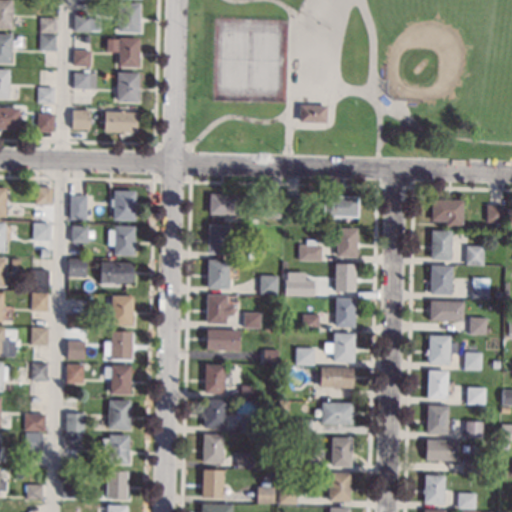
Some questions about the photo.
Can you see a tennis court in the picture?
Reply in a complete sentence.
Yes, a tennis court is visible in the scene.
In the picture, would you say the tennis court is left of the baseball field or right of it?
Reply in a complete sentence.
The tennis court is to the left of the baseball field.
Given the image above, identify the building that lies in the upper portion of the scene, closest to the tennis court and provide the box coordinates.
[300,103,328,122]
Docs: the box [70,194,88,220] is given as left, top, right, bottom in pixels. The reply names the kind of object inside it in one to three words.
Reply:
building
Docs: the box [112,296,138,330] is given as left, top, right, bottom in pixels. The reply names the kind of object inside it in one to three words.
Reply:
house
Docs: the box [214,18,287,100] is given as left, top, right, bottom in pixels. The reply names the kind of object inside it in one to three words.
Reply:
tennis court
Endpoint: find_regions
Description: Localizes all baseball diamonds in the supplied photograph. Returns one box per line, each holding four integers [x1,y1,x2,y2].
[372,0,512,134]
